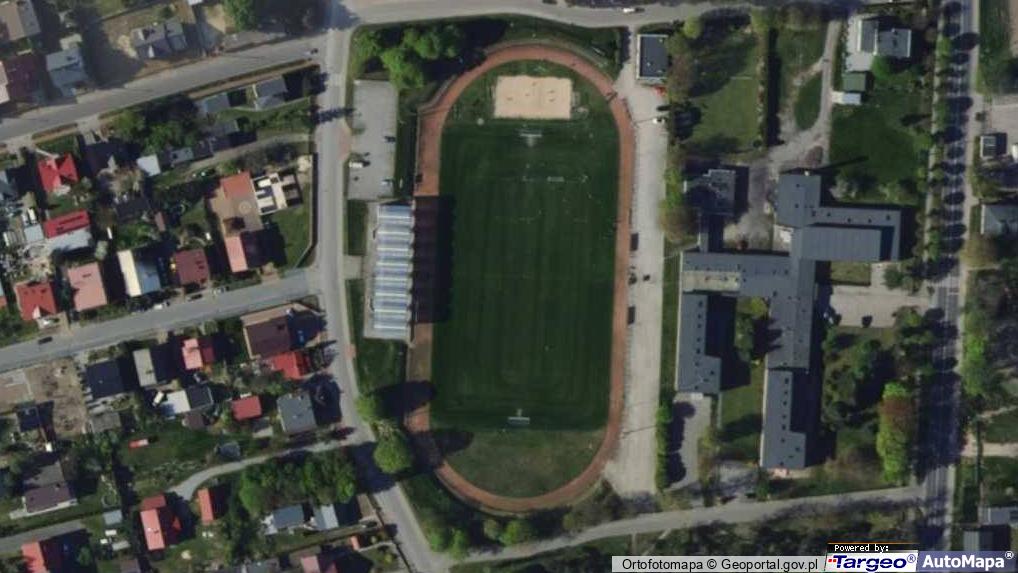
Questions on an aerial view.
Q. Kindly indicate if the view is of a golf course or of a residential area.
residential area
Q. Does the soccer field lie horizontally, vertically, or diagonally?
vertically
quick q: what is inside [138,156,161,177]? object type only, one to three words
building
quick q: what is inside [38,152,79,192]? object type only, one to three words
house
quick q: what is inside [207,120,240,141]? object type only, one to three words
shed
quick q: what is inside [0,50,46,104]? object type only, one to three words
house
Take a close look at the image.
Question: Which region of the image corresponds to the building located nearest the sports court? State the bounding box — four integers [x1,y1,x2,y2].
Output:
[636,34,669,81]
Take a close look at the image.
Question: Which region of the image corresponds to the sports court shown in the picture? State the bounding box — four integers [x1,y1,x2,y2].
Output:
[494,75,572,118]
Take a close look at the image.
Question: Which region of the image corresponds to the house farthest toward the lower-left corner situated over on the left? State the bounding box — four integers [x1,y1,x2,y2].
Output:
[22,536,70,573]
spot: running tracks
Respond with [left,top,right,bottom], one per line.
[404,44,634,511]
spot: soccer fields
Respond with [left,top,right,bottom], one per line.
[428,60,621,497]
